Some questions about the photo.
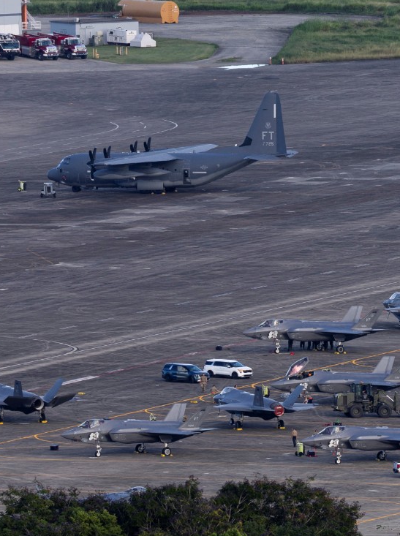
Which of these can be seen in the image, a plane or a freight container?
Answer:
plane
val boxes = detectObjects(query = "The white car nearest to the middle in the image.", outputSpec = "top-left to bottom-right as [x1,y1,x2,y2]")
[197,357,253,378]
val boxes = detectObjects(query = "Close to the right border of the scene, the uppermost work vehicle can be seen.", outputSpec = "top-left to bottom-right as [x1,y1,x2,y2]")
[331,378,400,417]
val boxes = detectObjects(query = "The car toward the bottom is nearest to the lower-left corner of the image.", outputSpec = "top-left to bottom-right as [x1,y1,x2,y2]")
[155,361,210,383]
